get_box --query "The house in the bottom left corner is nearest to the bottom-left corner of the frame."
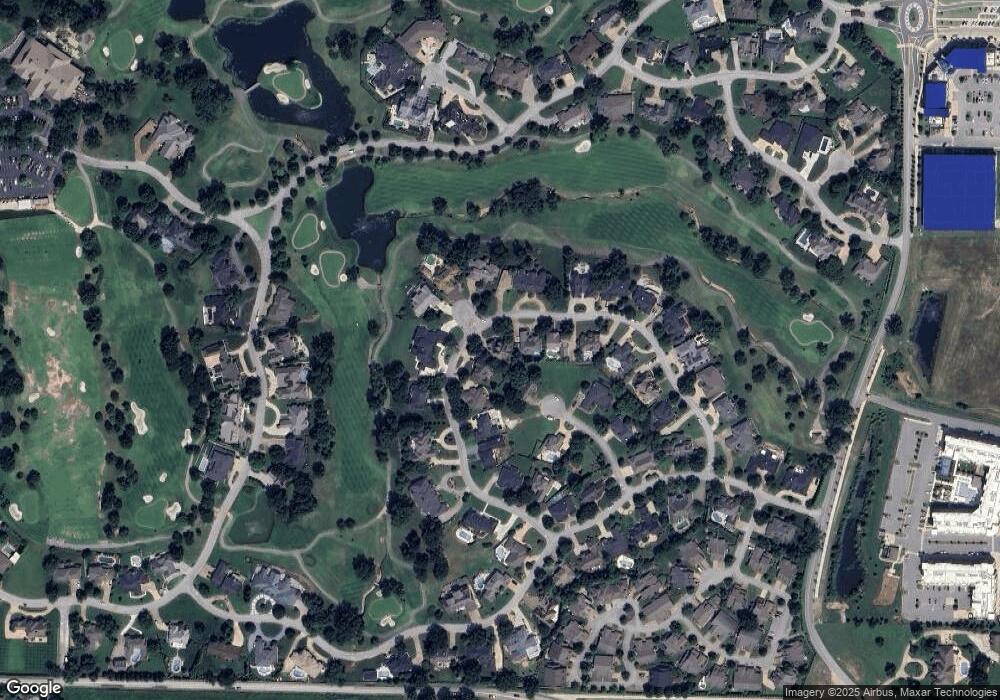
[18,621,57,642]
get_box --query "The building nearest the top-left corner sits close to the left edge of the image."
[14,34,86,103]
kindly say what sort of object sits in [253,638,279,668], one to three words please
house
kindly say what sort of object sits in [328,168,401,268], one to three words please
pond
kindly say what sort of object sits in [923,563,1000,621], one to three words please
building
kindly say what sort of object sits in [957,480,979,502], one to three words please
swimming pool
